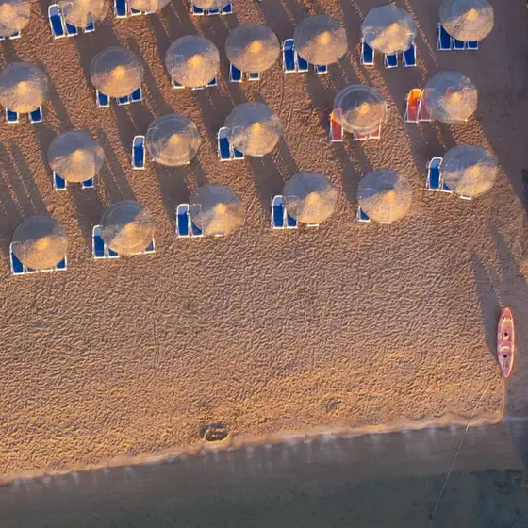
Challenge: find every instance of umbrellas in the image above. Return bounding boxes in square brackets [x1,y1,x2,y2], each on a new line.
[57,0,111,27]
[98,200,154,253]
[441,144,499,196]
[145,116,200,167]
[0,0,31,37]
[124,0,171,14]
[47,131,105,184]
[0,64,50,112]
[225,24,280,72]
[187,183,245,237]
[361,5,417,53]
[357,170,414,223]
[164,37,219,87]
[224,103,282,154]
[88,47,144,97]
[292,15,348,65]
[424,72,480,123]
[331,85,387,133]
[12,217,68,270]
[437,0,494,42]
[279,171,337,224]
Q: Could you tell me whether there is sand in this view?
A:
Yes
